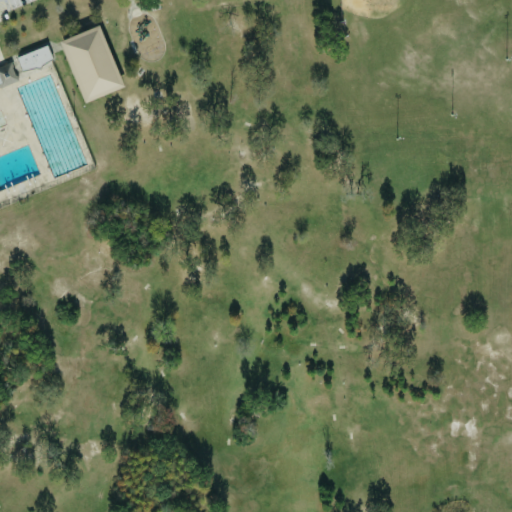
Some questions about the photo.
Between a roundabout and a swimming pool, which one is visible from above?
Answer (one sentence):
I can see a swimming pool in this picture.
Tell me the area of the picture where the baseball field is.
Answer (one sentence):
You can find the baseball field in the top right area of the picture.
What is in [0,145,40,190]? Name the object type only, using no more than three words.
swimming pool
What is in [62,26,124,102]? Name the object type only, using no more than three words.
building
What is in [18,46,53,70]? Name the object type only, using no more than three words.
building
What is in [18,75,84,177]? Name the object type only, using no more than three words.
swimming pool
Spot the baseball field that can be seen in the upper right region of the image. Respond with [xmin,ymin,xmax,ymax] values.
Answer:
[341,0,512,138]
